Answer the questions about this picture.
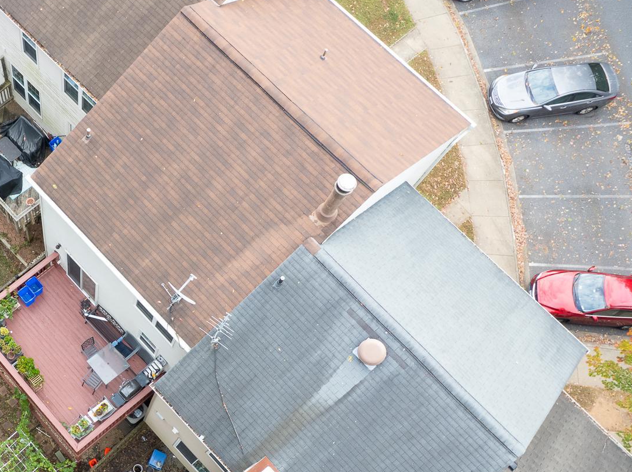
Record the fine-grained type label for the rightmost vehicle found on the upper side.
car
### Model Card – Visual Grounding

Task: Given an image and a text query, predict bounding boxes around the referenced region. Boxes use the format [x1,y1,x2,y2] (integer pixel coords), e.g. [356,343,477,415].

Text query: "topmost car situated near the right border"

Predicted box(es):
[486,61,626,125]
